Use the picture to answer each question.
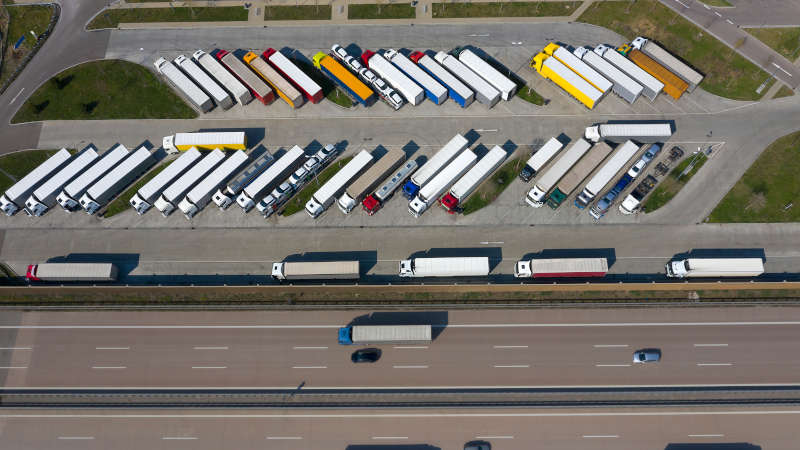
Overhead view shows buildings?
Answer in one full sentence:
No, there appears to be no building in this shot.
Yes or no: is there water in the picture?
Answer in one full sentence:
No, no water is visible.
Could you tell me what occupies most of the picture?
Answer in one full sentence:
For the most part, this view shows paved ground.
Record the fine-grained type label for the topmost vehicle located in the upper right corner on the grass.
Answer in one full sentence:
The topmost vehicle located in the upper right corner on the grass appears to be a truck.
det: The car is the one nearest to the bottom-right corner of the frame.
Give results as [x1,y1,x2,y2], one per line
[633,349,661,362]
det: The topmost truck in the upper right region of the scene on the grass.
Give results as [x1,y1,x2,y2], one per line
[629,39,703,94]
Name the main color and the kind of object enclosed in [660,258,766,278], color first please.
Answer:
white vehicle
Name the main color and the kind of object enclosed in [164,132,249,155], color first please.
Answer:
white truck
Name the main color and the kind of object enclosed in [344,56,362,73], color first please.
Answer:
white car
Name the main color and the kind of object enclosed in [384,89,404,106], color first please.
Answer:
white car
